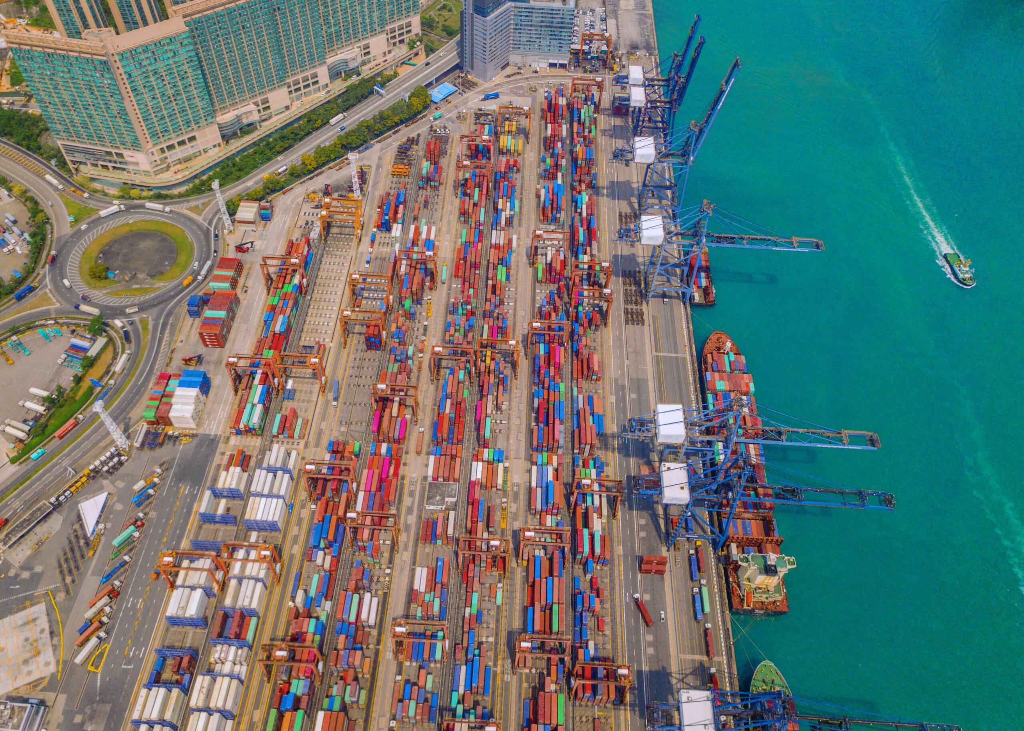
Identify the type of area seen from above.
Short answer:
port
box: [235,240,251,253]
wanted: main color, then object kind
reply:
red vehicle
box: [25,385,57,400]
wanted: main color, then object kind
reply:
white vehicle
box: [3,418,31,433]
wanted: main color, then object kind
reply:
white vehicle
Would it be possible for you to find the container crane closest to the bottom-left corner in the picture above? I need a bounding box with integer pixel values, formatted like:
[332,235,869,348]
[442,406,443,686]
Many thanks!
[155,549,227,596]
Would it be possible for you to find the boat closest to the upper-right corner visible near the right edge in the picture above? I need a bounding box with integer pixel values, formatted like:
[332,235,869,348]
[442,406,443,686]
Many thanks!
[941,253,974,291]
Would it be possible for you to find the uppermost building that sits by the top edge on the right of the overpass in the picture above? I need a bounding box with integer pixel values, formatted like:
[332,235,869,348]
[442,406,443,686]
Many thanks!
[465,0,577,81]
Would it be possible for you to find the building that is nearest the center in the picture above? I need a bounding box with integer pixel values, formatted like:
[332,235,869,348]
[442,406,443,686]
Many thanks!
[425,481,458,510]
